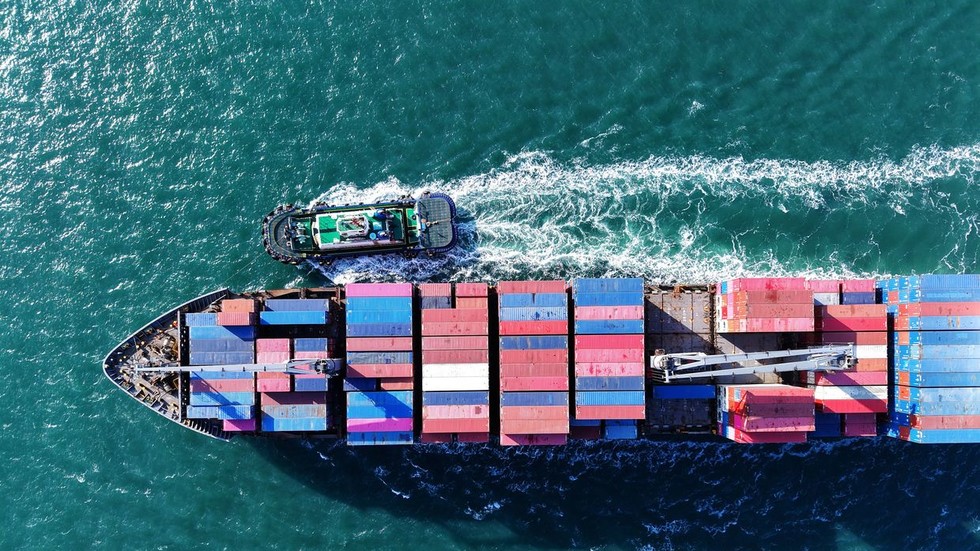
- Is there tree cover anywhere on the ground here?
No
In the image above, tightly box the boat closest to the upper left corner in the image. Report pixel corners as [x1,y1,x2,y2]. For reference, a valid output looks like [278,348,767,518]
[260,192,457,263]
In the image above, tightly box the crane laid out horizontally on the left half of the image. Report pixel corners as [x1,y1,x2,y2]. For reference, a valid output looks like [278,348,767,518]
[131,349,346,377]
